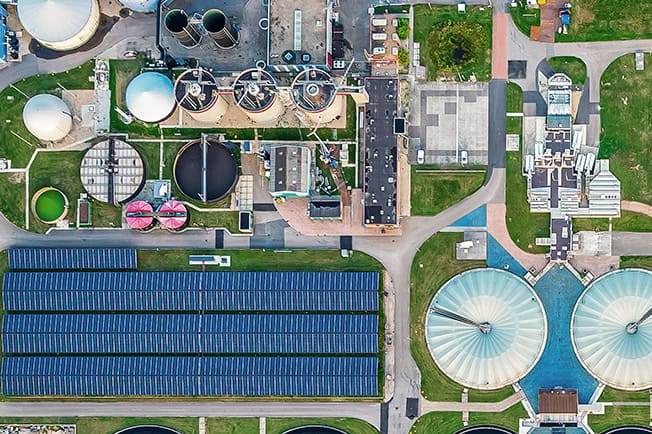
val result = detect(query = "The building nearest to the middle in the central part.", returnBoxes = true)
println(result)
[309,197,341,218]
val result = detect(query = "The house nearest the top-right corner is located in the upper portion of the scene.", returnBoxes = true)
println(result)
[543,73,572,130]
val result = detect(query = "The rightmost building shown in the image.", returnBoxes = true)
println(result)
[585,160,620,216]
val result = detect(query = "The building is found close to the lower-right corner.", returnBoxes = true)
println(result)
[535,383,579,413]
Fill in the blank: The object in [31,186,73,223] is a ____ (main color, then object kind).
green storage tank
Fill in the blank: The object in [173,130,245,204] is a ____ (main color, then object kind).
black storage tank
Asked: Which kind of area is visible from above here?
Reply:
industrial area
